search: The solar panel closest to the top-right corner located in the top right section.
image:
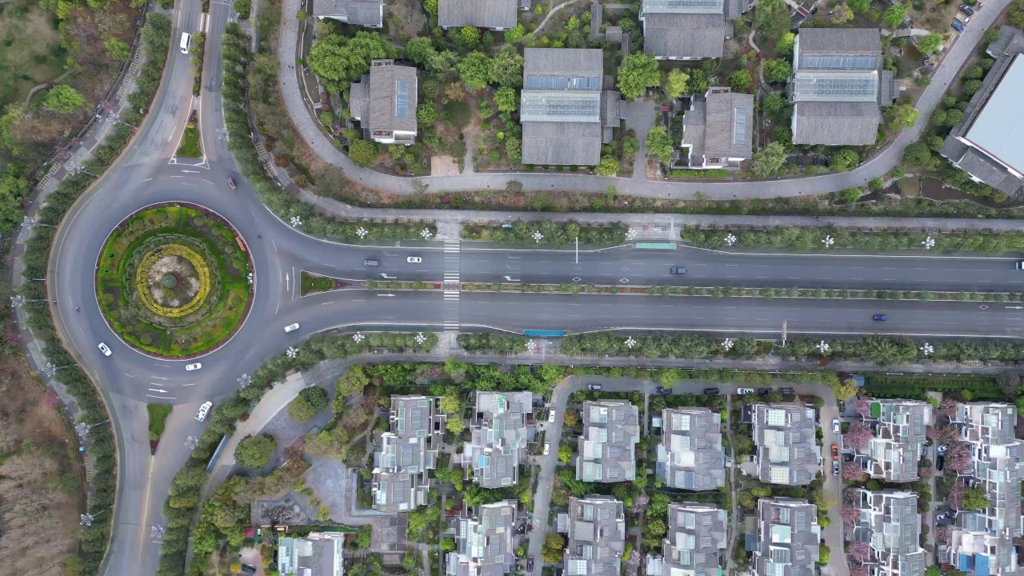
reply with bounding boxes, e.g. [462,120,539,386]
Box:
[803,54,880,67]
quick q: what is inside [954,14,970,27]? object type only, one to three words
vehicle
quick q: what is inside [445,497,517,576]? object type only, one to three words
house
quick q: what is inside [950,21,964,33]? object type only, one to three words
vehicle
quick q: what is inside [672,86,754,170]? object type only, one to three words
house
